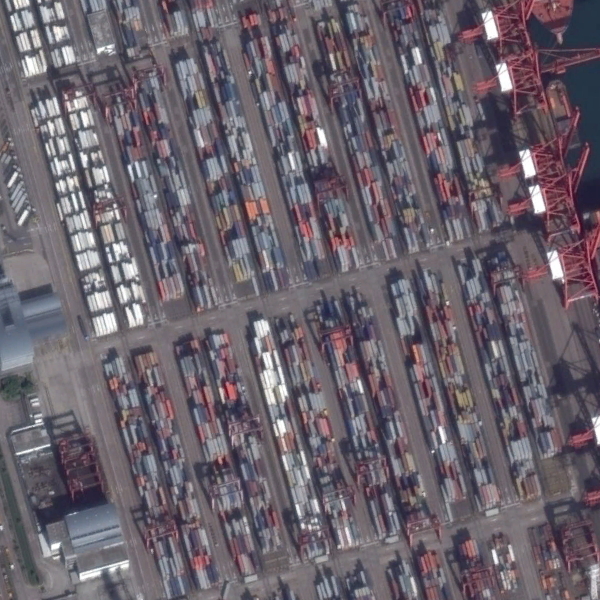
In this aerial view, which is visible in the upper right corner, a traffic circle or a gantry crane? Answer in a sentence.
Looking in the upper right corner, you will find a gantry crane.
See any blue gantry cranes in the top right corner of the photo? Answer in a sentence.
No, there's no blue gantry crane to be seen in the top right corner of the photo.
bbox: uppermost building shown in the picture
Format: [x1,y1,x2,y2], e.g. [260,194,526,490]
[87,11,116,56]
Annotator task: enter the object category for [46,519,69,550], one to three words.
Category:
building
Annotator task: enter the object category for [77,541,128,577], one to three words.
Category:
shed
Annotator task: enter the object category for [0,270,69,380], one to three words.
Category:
building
